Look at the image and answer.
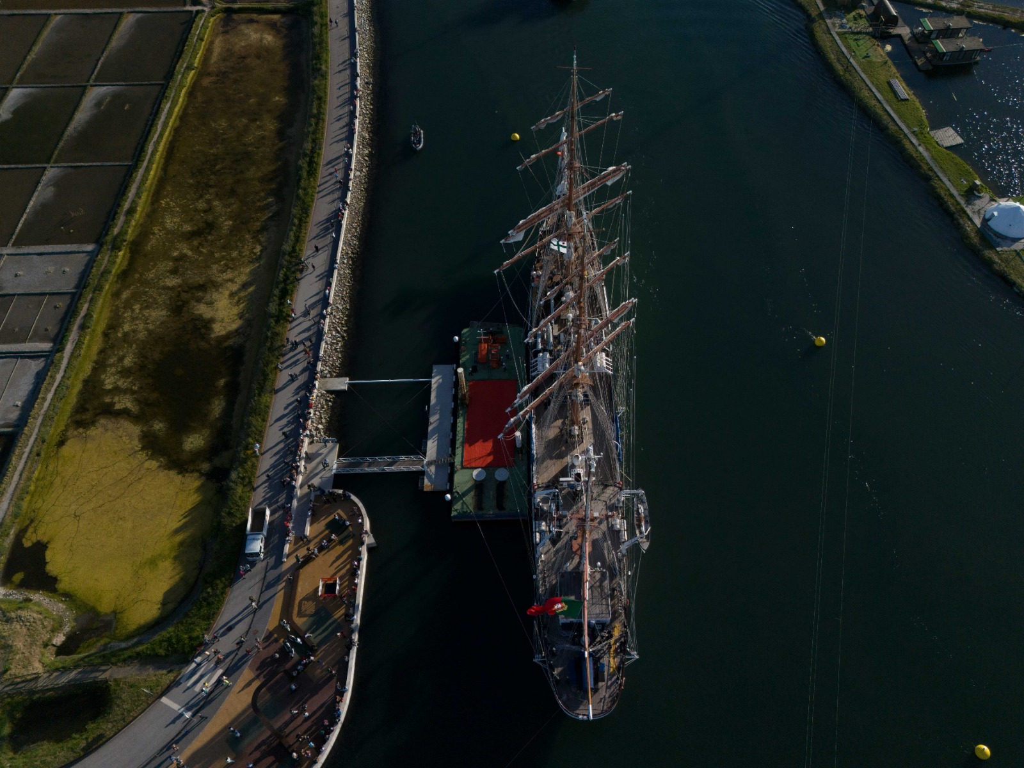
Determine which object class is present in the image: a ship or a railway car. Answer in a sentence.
Of the two, only a ship appears.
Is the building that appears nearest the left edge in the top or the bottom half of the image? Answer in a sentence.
It is in the top half that the building that appears nearest the left edge appears.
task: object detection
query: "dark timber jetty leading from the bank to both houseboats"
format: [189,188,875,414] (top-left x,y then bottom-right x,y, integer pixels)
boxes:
[869,23,934,71]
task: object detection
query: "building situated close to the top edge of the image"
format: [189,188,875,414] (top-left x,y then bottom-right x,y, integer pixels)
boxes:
[866,0,905,28]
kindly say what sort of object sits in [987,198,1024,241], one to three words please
tent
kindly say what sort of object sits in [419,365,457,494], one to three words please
pier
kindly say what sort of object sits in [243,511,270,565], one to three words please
truck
